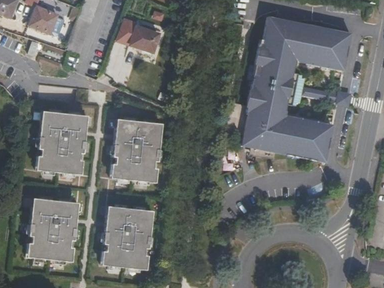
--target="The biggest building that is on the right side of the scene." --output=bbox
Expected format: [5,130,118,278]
[241,17,351,163]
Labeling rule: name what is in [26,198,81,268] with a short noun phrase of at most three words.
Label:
building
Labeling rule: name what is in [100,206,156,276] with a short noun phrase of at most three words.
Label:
building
